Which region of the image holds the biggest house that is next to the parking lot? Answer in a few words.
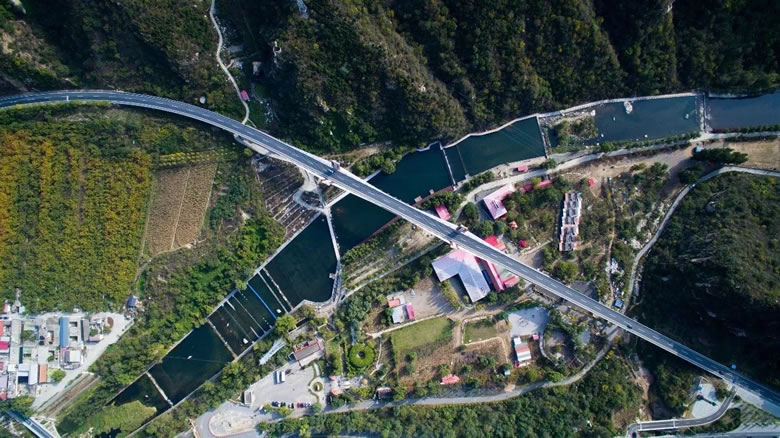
bottom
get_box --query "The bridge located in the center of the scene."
[110,90,726,377]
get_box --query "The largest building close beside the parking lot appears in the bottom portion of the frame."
[292,336,327,365]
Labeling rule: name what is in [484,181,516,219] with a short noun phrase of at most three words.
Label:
building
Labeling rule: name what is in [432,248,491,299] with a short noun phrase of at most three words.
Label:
building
